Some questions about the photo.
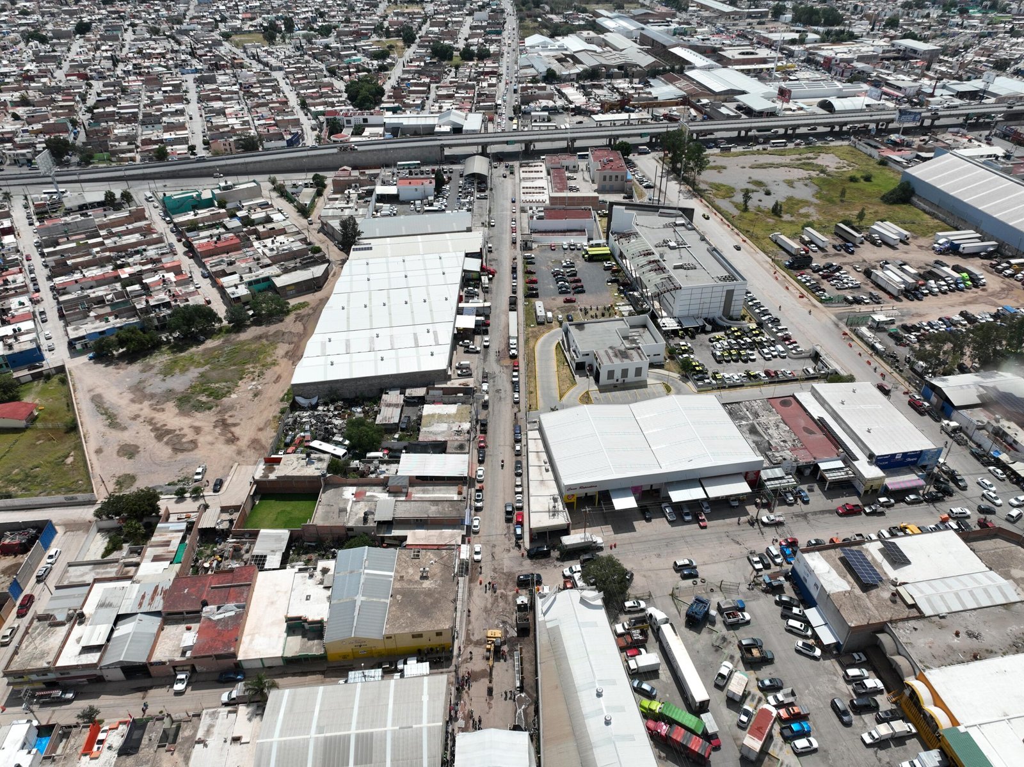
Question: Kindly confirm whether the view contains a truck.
Yes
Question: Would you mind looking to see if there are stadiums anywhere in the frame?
No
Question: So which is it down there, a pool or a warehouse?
warehouse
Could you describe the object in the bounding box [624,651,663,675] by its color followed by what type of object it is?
white truck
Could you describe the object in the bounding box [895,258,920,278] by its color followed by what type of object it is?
gray vehicle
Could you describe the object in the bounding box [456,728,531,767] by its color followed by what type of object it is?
white tent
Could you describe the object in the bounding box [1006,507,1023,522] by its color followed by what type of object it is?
white car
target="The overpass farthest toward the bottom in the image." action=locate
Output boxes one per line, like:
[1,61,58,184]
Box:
[0,97,1024,187]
